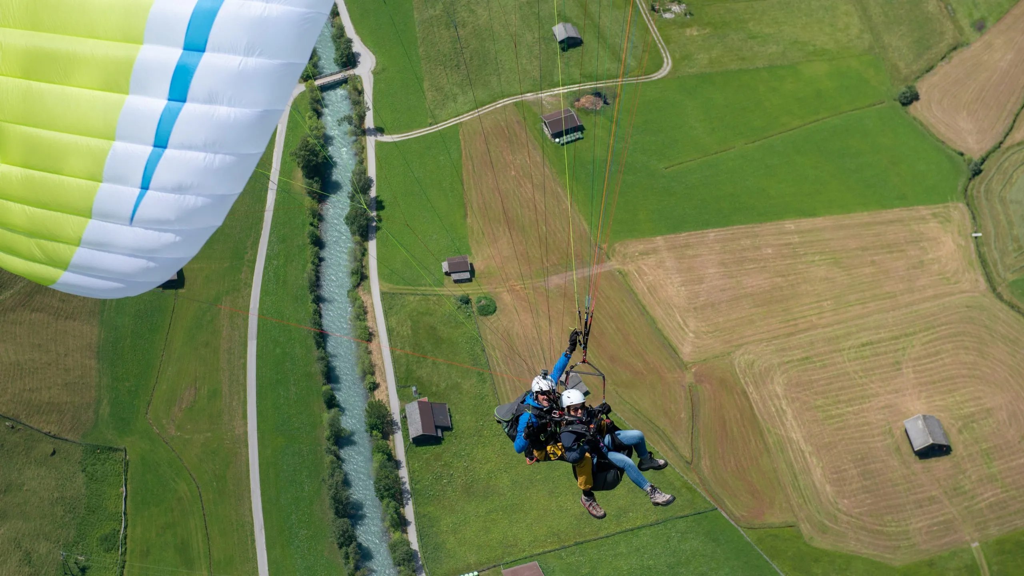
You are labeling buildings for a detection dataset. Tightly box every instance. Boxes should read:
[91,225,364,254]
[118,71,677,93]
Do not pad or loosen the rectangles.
[502,561,540,576]
[552,20,582,46]
[904,412,949,456]
[564,374,590,397]
[442,255,470,284]
[405,396,452,444]
[154,273,178,291]
[542,108,584,139]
